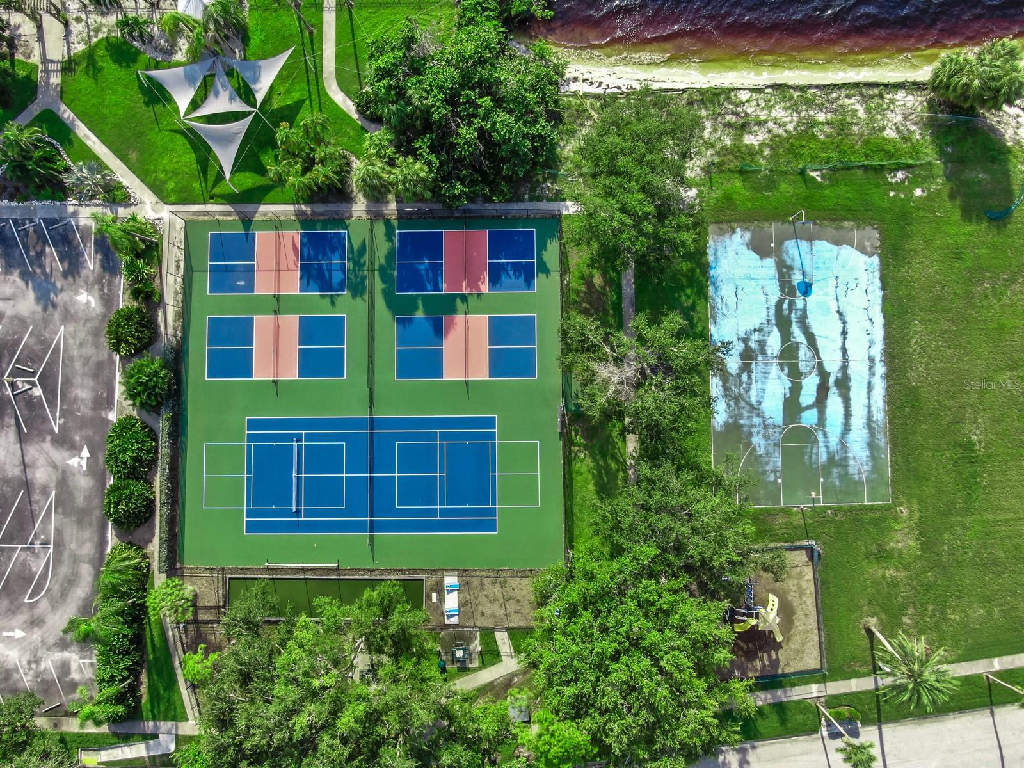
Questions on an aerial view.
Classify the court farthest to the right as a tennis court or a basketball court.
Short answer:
basketball court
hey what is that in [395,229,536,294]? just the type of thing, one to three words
sports court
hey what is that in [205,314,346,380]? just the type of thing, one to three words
sports court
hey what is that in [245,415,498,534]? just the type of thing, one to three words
tennis court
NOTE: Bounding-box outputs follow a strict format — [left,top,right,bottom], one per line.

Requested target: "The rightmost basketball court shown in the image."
[709,222,891,506]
